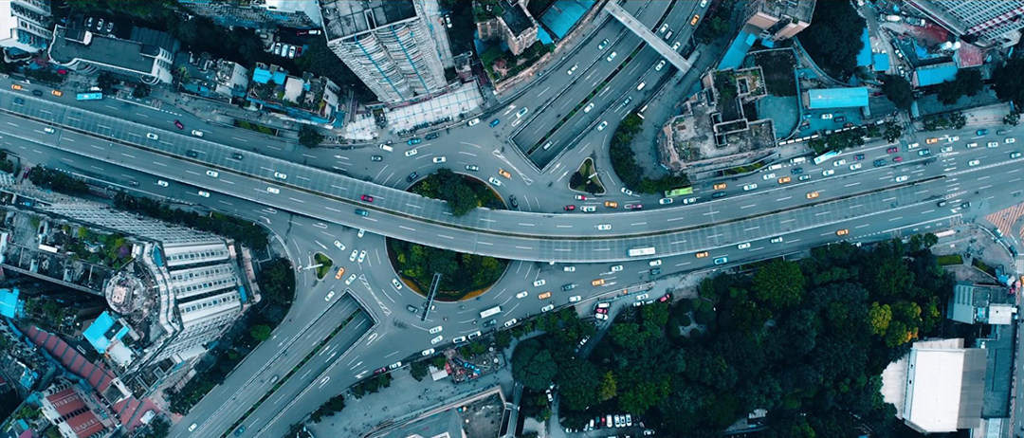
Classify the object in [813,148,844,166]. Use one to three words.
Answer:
vehicle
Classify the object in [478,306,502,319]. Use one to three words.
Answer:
vehicle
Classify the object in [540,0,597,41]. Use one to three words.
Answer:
shed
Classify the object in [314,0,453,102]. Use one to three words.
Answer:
building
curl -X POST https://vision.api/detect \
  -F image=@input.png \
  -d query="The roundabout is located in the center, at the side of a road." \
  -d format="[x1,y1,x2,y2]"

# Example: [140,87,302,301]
[385,171,510,302]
